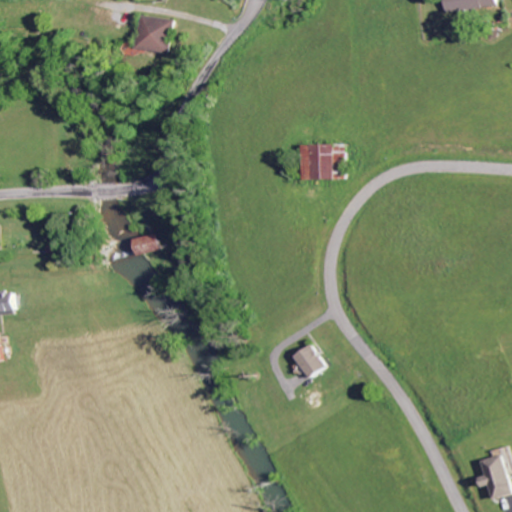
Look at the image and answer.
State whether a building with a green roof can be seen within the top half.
No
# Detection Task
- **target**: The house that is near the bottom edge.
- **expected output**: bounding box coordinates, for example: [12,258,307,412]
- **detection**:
[477,446,512,499]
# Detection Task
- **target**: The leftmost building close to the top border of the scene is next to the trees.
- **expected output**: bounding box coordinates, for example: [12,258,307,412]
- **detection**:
[134,16,178,52]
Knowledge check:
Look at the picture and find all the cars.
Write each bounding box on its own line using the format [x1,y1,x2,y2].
[121,12,128,22]
[301,378,311,386]
[502,498,509,510]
